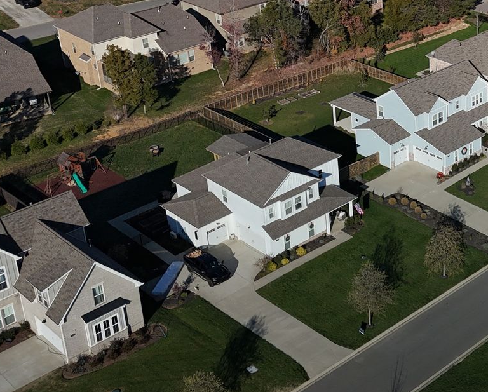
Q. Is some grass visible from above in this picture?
Yes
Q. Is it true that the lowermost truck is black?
Yes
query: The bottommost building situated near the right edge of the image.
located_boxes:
[330,57,488,173]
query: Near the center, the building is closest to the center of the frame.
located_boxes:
[159,120,361,257]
